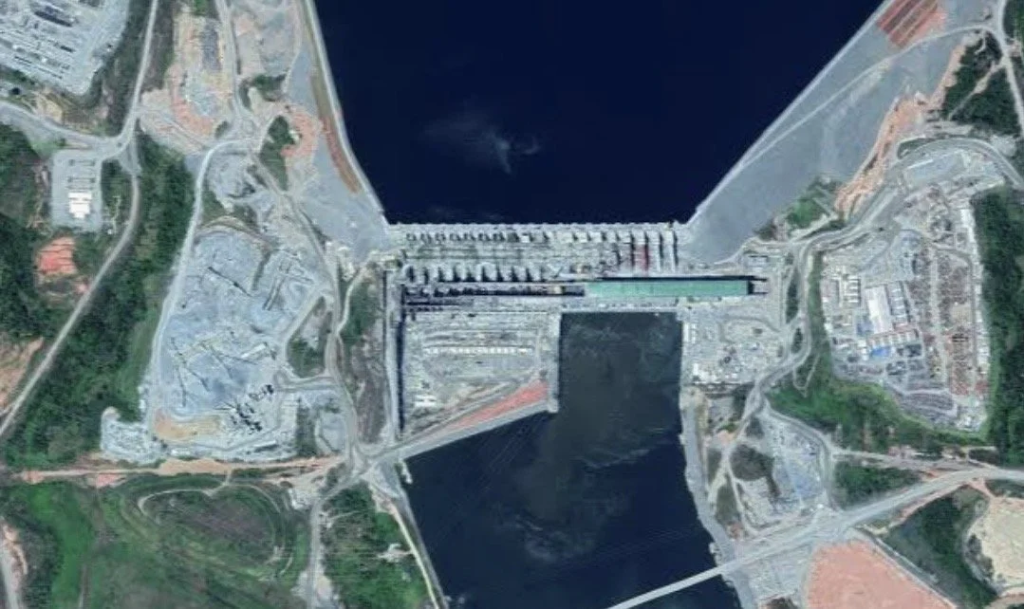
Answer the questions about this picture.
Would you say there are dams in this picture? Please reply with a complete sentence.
Yes, this view includes a dam.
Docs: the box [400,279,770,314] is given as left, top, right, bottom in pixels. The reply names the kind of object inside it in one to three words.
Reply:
building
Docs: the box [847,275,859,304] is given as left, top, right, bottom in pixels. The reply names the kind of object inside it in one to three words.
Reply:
building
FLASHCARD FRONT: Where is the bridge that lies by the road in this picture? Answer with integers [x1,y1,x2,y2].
[605,558,739,609]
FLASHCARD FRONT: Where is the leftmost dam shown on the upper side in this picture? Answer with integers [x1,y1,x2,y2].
[298,0,389,261]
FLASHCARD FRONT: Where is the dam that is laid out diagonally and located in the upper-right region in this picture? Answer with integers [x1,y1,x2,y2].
[687,0,928,267]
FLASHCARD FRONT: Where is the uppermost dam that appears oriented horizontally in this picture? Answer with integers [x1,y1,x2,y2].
[387,223,689,285]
